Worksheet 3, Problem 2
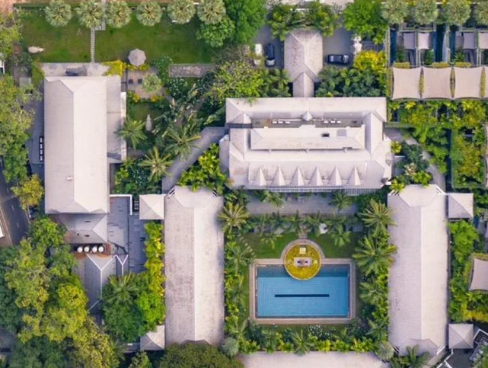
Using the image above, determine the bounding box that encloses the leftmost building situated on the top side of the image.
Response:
[30,63,126,213]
